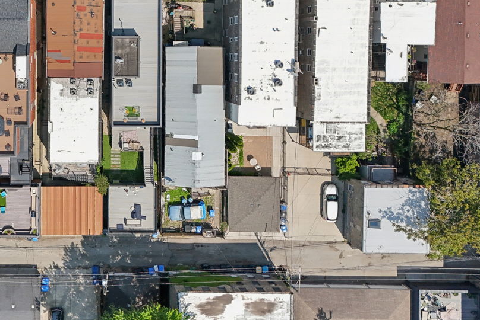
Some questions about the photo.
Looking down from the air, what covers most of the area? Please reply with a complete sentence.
The bulk of the photo consists of buildings.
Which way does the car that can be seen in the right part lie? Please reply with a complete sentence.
From this overhead view, the car that can be seen in the right part appears to run vertically.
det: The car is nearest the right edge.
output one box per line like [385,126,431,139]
[320,181,340,223]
